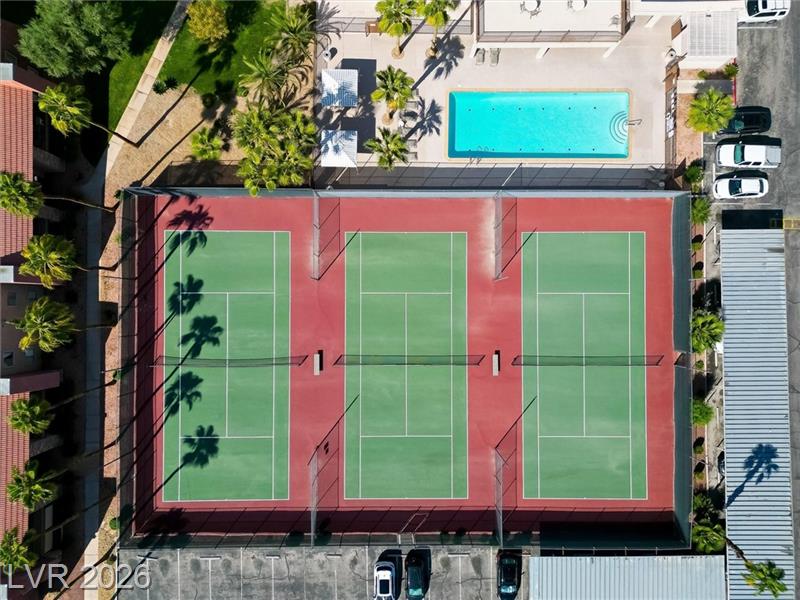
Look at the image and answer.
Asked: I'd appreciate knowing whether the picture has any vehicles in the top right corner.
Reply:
Yes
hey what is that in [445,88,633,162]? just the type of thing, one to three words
swimming pool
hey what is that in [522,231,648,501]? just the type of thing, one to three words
tennis court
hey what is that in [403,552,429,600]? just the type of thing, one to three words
car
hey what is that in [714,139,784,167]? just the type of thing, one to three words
truck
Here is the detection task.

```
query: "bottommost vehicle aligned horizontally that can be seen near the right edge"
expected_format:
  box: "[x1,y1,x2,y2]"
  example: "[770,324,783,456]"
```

[712,173,768,198]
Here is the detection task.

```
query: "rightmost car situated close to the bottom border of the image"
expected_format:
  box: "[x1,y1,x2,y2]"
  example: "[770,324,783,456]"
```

[496,550,523,600]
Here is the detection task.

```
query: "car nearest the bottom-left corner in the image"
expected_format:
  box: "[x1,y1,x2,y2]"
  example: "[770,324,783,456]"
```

[373,559,398,600]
